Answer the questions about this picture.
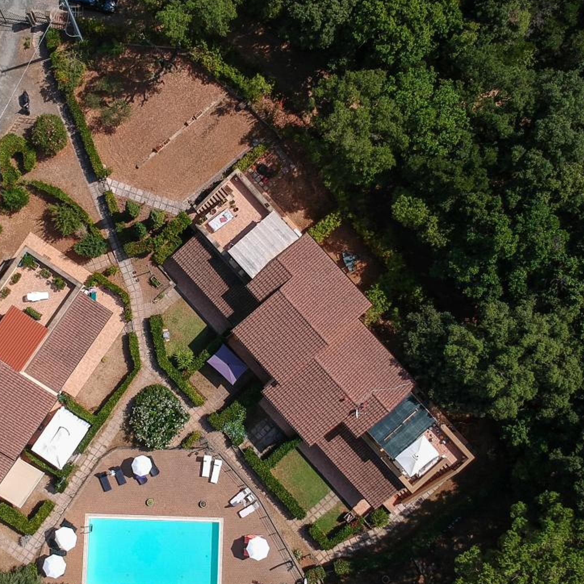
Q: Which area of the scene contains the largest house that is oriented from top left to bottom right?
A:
center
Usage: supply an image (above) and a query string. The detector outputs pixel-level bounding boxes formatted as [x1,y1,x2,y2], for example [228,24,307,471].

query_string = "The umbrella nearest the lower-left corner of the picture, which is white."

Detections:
[41,552,65,577]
